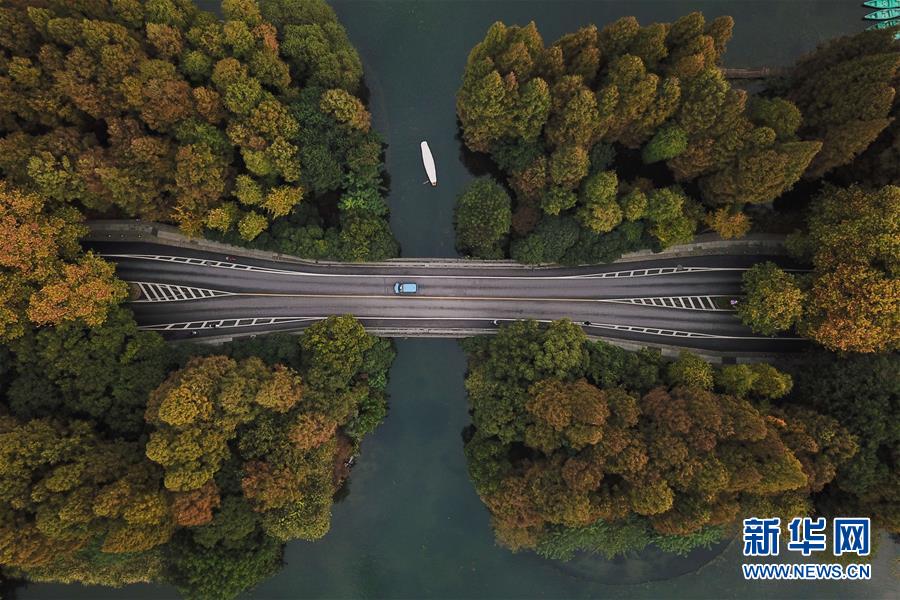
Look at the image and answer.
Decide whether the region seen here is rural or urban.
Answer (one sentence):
The land in this view is best described as rural.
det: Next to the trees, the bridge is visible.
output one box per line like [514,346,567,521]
[391,258,477,337]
